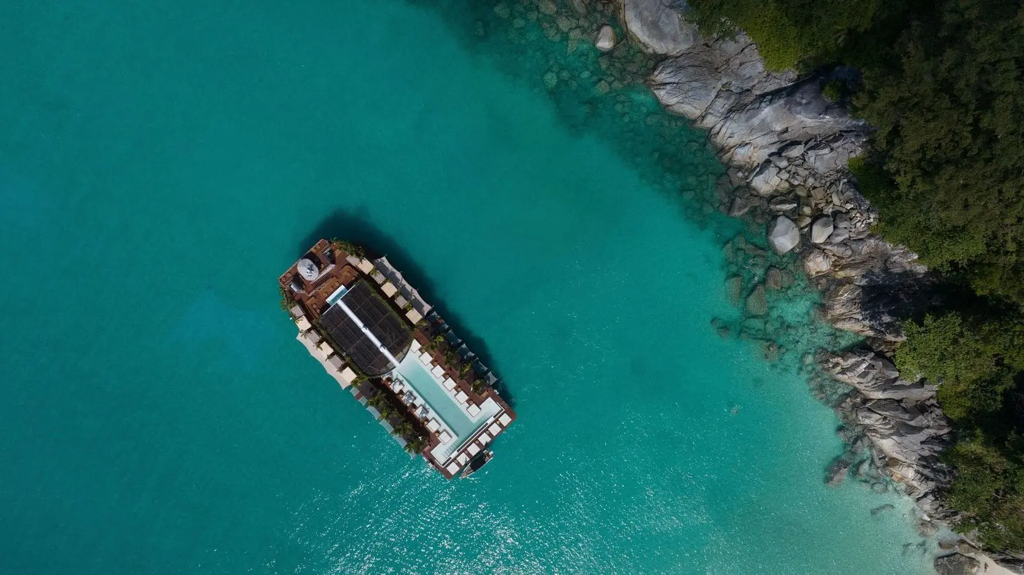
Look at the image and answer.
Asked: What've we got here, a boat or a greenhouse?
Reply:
boat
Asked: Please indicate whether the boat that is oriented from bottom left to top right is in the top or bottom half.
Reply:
bottom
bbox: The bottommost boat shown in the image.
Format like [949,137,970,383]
[459,450,495,479]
